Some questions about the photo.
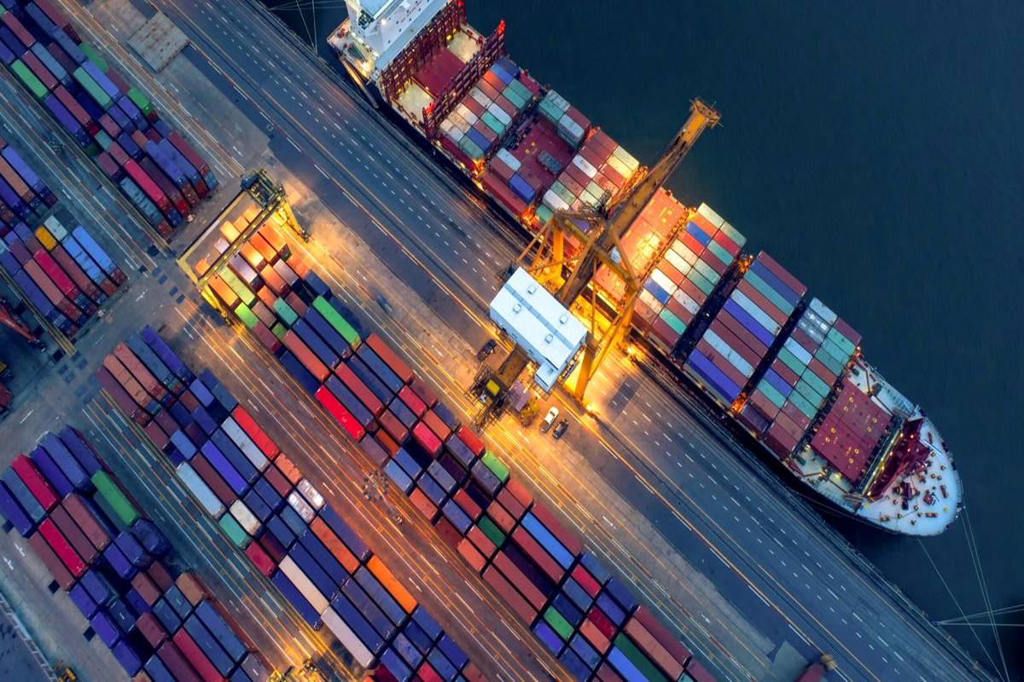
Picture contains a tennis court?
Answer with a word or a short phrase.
No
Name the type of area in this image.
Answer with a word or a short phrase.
port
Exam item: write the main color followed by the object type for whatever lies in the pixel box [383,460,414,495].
blue shipping container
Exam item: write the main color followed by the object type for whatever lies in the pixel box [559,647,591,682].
blue shipping container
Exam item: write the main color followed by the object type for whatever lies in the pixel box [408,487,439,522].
red shipping container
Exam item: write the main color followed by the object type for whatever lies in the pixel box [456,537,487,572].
red shipping container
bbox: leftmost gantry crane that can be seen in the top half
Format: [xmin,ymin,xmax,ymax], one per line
[173,174,328,343]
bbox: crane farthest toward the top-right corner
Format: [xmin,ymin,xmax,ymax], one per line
[446,101,720,441]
